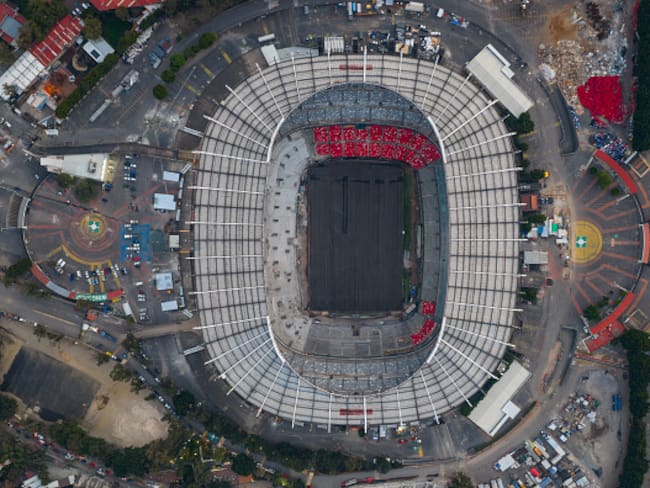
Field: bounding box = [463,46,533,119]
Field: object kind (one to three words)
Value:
building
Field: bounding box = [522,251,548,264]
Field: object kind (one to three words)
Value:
building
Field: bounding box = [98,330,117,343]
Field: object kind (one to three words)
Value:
vehicle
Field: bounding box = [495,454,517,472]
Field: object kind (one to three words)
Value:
vehicle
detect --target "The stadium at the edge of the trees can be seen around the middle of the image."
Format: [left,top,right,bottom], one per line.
[185,46,527,433]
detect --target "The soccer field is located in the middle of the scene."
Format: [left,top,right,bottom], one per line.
[307,160,410,311]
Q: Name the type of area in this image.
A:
sports ground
